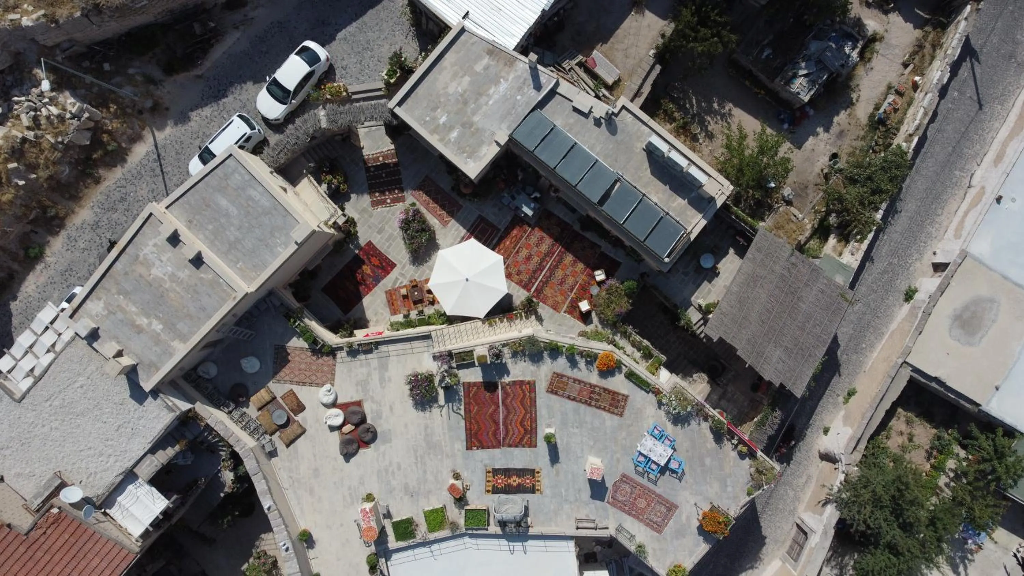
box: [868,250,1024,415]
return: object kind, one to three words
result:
house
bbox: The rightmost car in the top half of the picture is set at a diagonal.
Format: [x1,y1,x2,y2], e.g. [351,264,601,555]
[256,37,331,129]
